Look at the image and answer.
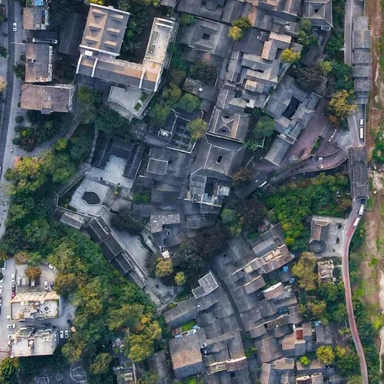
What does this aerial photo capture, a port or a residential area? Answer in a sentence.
This looks like a residential area.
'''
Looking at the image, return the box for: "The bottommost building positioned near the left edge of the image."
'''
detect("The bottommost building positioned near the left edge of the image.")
[12,327,62,356]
